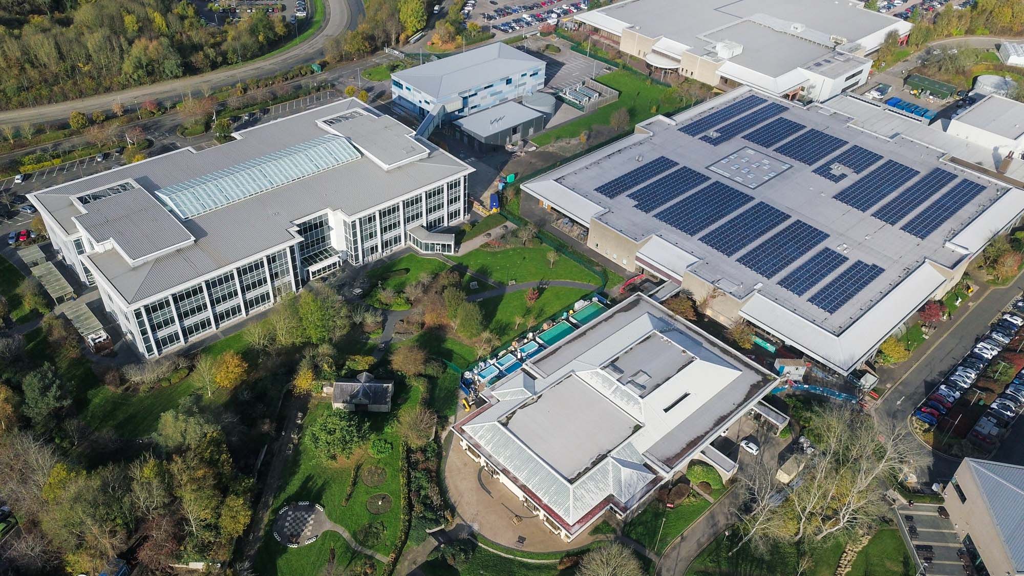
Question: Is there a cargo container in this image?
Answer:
Yes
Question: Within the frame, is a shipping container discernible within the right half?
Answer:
Yes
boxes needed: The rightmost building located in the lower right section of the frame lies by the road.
[949,457,1024,576]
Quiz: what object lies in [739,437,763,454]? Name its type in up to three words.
car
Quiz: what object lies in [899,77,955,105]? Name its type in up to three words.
shed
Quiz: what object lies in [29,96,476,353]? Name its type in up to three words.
building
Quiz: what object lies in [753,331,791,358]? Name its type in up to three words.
shipping container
